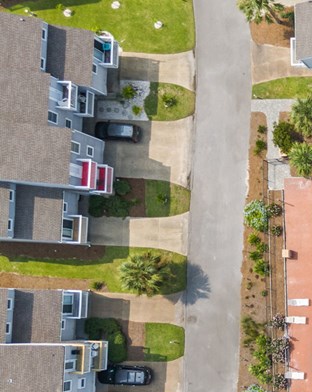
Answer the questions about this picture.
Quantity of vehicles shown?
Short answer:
2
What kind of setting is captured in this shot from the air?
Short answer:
residential area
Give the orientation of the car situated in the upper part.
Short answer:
from left to right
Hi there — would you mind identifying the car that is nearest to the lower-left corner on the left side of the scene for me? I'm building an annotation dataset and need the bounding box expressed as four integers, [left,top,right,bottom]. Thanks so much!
[98,364,151,388]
